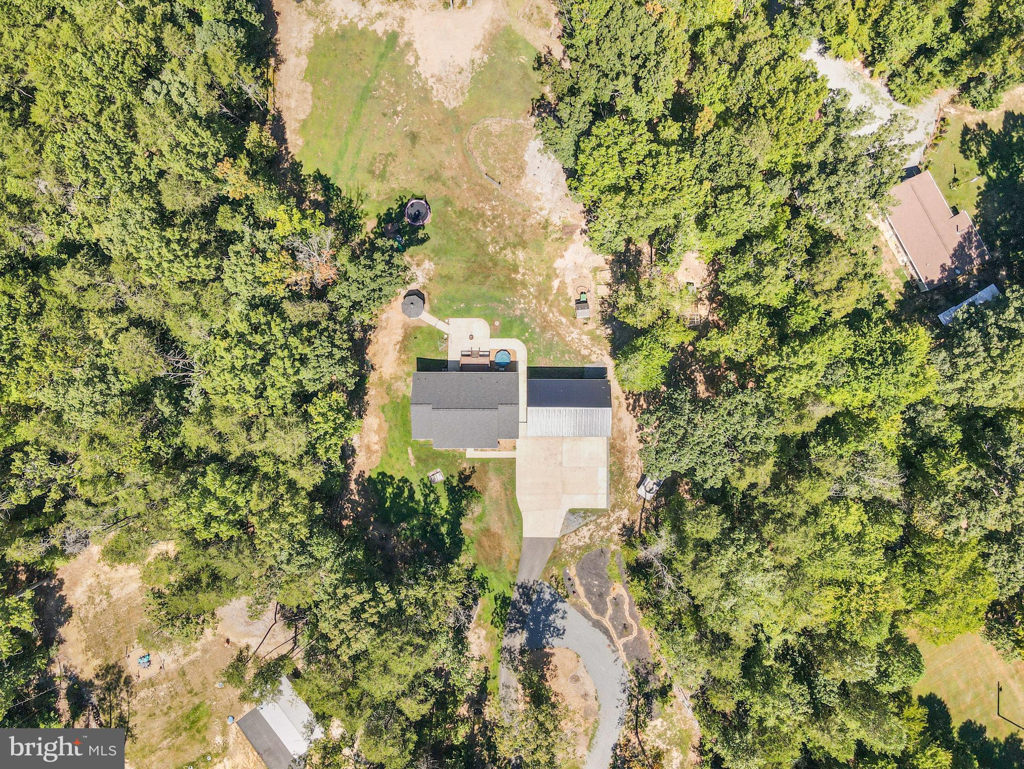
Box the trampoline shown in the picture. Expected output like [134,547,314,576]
[404,194,430,227]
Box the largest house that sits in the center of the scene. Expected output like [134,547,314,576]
[411,371,519,449]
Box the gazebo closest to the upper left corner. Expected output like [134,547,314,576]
[401,293,427,319]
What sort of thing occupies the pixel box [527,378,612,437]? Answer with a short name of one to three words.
building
